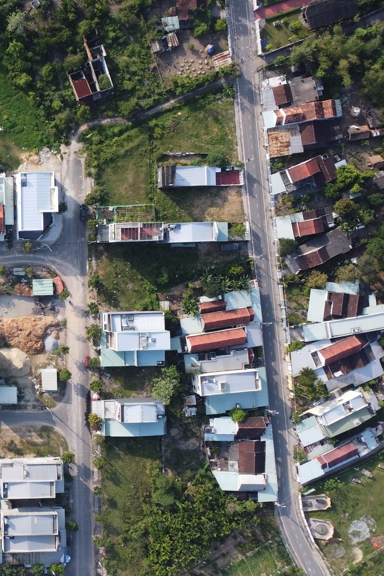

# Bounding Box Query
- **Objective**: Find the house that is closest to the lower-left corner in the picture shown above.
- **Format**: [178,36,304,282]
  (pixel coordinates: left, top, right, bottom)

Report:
[0,500,66,567]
